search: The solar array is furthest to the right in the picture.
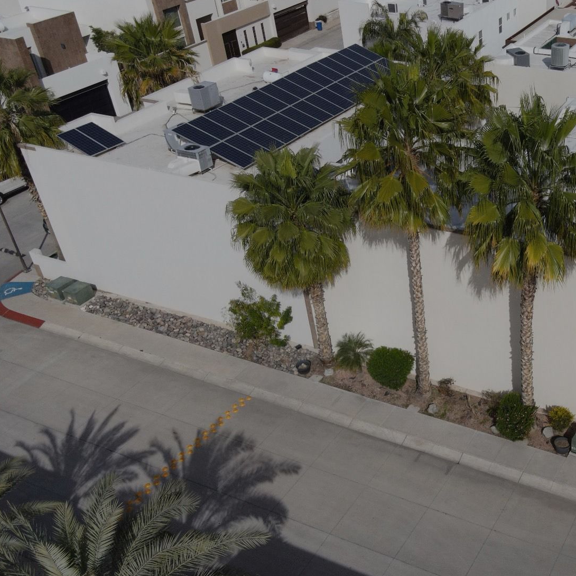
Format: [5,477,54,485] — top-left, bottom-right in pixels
[174,45,388,167]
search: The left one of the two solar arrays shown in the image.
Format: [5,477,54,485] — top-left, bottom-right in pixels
[58,123,125,158]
